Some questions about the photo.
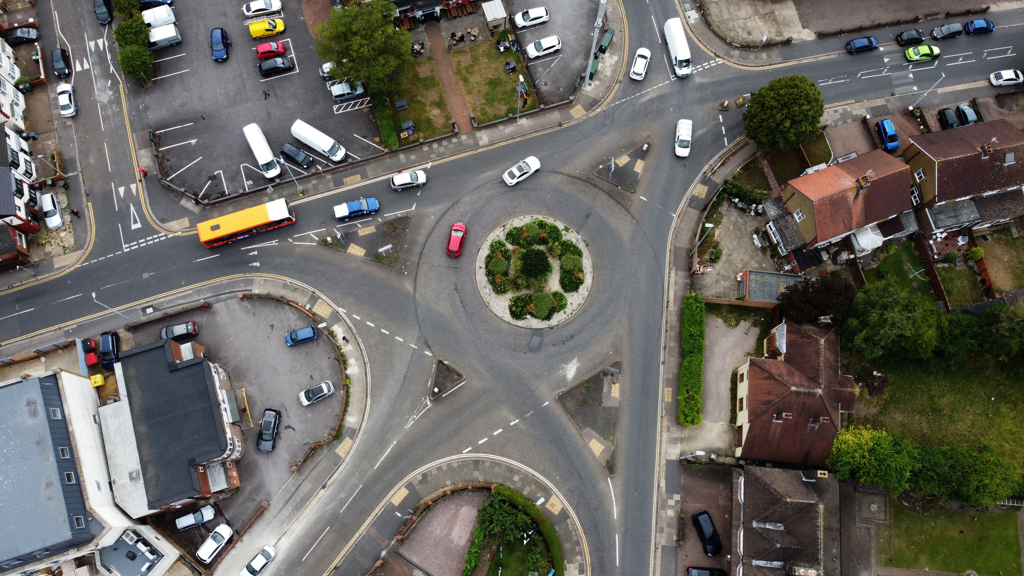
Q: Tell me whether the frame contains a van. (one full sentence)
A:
Yes, this view includes a van.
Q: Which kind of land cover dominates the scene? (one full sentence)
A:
What you mostly see from above here is paved ground.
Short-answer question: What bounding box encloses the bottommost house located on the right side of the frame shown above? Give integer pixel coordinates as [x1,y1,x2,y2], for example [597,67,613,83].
[726,466,840,576]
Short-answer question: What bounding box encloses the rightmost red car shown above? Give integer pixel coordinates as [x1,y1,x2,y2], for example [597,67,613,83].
[447,223,466,258]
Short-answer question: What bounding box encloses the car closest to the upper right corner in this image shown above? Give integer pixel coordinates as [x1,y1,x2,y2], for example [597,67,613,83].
[965,20,994,38]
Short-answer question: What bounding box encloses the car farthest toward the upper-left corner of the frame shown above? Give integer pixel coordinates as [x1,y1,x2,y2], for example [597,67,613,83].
[7,27,40,47]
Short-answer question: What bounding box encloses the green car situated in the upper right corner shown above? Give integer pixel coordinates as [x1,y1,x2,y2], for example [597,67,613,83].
[904,44,940,63]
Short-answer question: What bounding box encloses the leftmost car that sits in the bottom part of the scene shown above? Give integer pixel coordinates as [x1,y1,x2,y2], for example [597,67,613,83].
[98,331,120,371]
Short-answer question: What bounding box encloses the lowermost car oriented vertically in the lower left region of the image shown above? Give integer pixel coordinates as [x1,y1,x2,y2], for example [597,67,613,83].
[255,408,282,452]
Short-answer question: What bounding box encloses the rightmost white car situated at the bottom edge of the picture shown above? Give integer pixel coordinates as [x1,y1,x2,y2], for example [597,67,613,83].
[240,543,278,576]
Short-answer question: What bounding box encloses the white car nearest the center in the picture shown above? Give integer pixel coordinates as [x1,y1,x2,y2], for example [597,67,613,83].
[502,157,541,186]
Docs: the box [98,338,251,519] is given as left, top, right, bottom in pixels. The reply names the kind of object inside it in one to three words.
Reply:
building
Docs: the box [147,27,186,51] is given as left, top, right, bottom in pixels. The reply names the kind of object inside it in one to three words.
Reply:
vehicle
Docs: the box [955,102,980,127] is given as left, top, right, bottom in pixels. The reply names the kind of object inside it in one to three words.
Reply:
car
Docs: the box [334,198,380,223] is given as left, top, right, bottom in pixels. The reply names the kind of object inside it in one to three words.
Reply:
truck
